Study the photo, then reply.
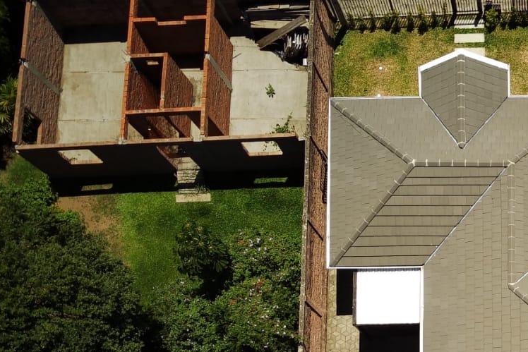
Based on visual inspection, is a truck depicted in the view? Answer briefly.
No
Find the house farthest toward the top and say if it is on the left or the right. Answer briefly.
left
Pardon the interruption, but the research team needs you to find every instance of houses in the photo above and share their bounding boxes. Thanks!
[321,44,528,352]
[8,0,310,194]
